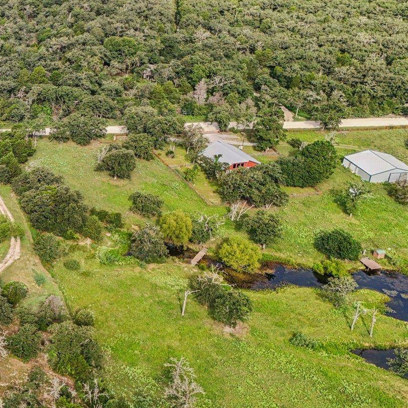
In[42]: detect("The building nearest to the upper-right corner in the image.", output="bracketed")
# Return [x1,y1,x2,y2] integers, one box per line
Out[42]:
[341,150,408,185]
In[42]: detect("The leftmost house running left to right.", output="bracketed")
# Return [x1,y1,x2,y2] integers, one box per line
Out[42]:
[199,144,258,175]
